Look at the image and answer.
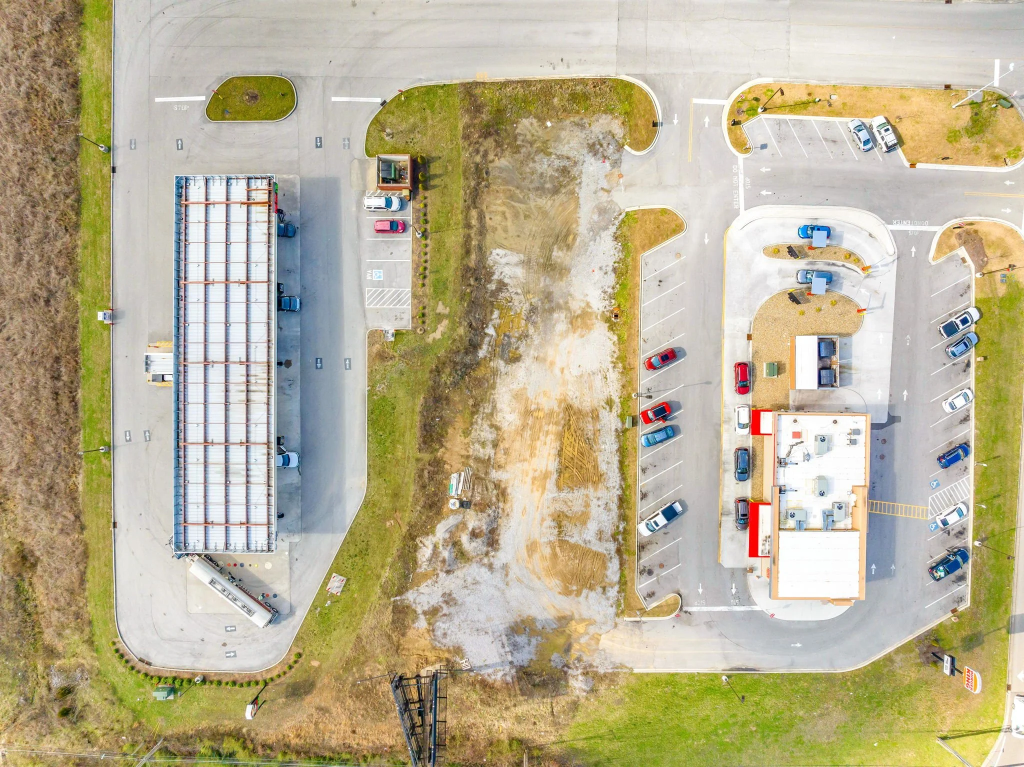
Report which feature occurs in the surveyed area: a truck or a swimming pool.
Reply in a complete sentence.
This aerial view contains a truck.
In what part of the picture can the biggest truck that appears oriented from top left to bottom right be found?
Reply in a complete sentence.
The biggest truck that appears oriented from top left to bottom right sits in the bottom left section of the image.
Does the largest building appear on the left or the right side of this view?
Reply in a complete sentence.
The largest building is on the right side of the image.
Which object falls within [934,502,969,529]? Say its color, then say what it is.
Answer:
white car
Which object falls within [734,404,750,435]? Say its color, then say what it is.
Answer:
white car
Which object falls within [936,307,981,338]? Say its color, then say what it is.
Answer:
white truck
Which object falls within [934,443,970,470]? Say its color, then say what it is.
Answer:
blue car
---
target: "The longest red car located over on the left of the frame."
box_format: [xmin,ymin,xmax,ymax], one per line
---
[374,218,405,235]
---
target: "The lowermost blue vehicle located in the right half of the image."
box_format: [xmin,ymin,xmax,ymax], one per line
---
[927,548,971,581]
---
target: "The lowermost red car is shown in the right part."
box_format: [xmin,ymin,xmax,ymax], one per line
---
[639,401,672,425]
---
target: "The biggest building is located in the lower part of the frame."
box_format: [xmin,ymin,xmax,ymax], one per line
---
[748,410,871,607]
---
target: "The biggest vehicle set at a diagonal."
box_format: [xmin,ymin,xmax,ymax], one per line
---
[170,544,278,628]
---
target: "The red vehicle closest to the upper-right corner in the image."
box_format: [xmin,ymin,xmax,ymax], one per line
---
[733,361,752,395]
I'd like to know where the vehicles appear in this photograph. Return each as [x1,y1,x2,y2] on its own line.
[1008,692,1024,739]
[940,388,973,413]
[278,447,302,469]
[733,361,752,395]
[643,347,678,372]
[927,548,971,581]
[796,223,831,240]
[278,221,297,238]
[845,118,875,153]
[934,443,970,470]
[870,115,899,154]
[374,218,405,235]
[363,193,400,212]
[936,307,981,338]
[942,331,979,359]
[278,294,301,311]
[795,267,833,285]
[639,501,685,535]
[733,446,752,481]
[734,497,750,531]
[734,404,750,435]
[640,423,676,448]
[170,544,278,628]
[639,401,672,425]
[934,502,969,529]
